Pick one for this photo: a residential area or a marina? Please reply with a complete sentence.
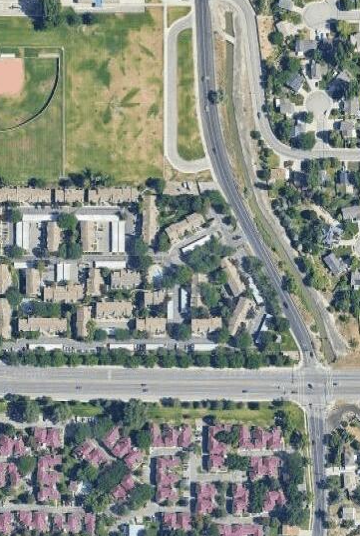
The picture captures a residential area.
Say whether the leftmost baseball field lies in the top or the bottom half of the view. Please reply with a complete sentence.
The top half of the photo is where the leftmost baseball field is.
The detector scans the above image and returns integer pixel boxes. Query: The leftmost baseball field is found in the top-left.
[0,49,58,130]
